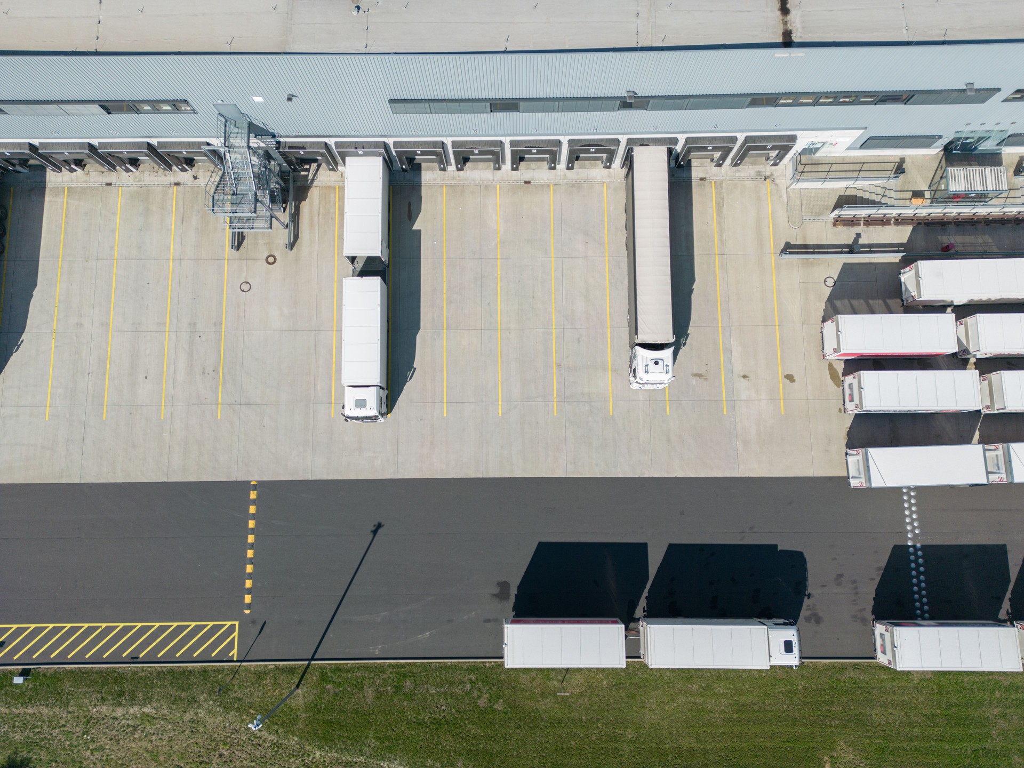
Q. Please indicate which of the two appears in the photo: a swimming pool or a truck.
truck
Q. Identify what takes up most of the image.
paved ground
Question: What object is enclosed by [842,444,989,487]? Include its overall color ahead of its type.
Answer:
white trailer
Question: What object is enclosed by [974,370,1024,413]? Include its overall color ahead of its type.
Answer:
white truck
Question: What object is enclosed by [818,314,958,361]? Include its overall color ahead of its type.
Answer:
white trailer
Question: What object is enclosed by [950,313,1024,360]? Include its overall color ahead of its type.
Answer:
white truck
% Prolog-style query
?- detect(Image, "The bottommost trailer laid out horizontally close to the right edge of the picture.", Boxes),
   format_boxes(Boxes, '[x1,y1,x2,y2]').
[869,616,1021,671]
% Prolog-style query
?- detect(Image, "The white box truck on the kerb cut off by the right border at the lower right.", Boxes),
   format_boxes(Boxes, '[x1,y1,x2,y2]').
[1001,617,1024,665]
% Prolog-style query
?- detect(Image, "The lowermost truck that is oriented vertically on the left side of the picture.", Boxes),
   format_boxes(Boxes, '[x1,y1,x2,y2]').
[342,276,389,423]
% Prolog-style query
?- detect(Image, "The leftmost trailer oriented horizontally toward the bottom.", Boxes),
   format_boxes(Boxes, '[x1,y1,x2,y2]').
[503,613,634,667]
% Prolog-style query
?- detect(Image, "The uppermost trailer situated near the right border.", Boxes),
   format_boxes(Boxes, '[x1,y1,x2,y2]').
[893,259,1024,310]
